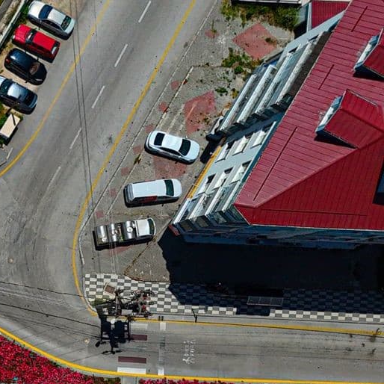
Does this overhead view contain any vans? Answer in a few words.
Yes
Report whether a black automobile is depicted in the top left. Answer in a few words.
Yes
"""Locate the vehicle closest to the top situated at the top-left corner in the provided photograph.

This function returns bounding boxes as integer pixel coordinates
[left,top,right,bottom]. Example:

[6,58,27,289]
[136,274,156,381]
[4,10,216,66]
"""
[25,1,78,42]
